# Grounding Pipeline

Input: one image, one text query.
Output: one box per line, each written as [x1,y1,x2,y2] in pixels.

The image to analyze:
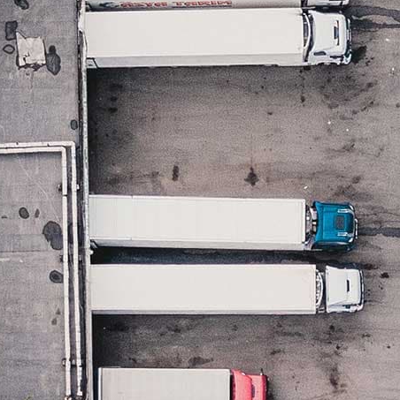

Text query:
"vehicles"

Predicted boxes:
[99,368,268,400]
[86,7,353,70]
[90,195,362,252]
[91,264,364,316]
[86,0,351,12]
